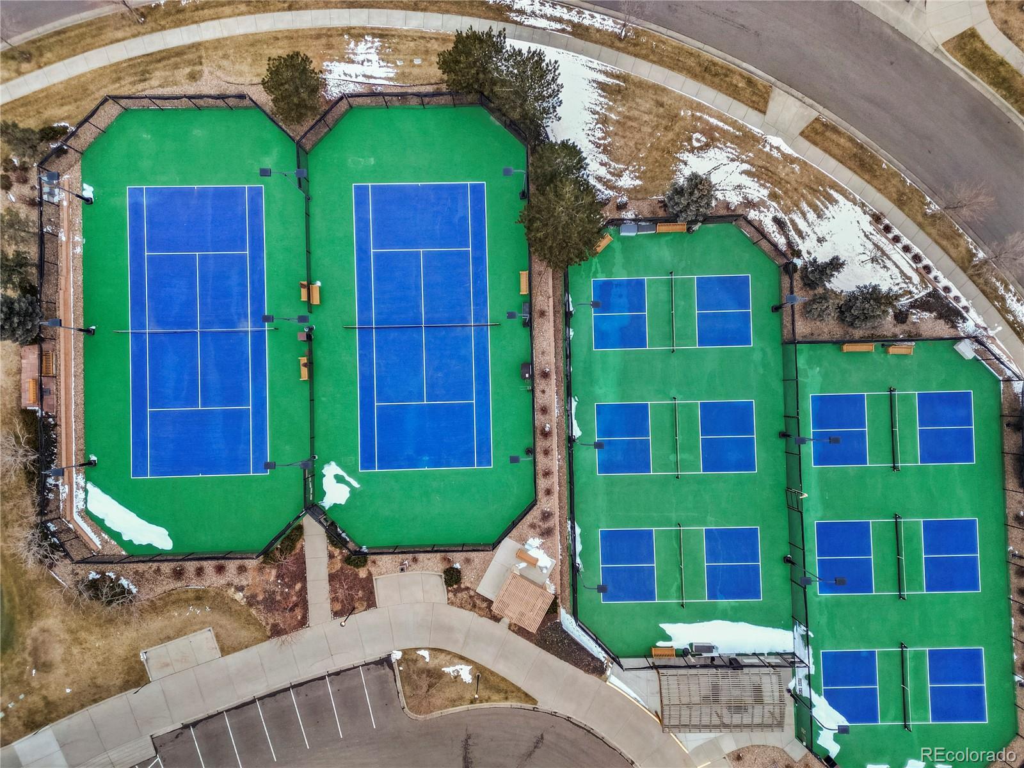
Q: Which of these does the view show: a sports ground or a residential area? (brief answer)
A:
sports ground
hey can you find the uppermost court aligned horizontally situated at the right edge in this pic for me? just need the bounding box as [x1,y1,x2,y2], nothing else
[810,391,976,467]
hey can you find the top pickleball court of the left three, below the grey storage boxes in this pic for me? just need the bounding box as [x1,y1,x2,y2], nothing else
[592,274,753,350]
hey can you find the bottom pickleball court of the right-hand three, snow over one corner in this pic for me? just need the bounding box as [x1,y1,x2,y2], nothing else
[821,648,988,725]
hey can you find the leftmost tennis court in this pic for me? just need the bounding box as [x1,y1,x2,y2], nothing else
[82,106,314,555]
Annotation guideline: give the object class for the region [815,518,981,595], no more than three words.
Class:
sports court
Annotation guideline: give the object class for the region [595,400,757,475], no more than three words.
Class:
sports court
